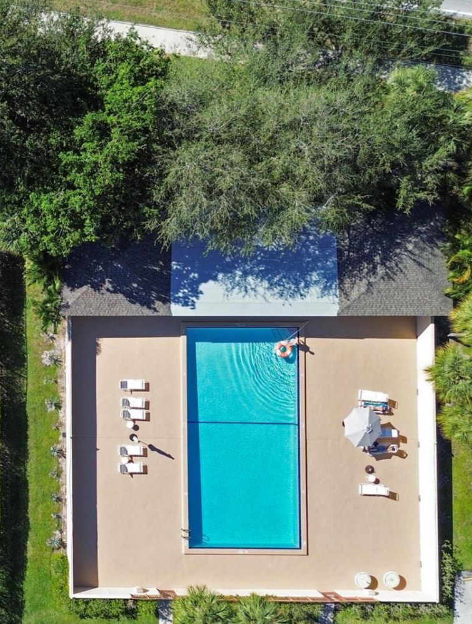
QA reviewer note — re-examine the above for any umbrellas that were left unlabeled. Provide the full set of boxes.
[129,432,142,442]
[342,408,379,448]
